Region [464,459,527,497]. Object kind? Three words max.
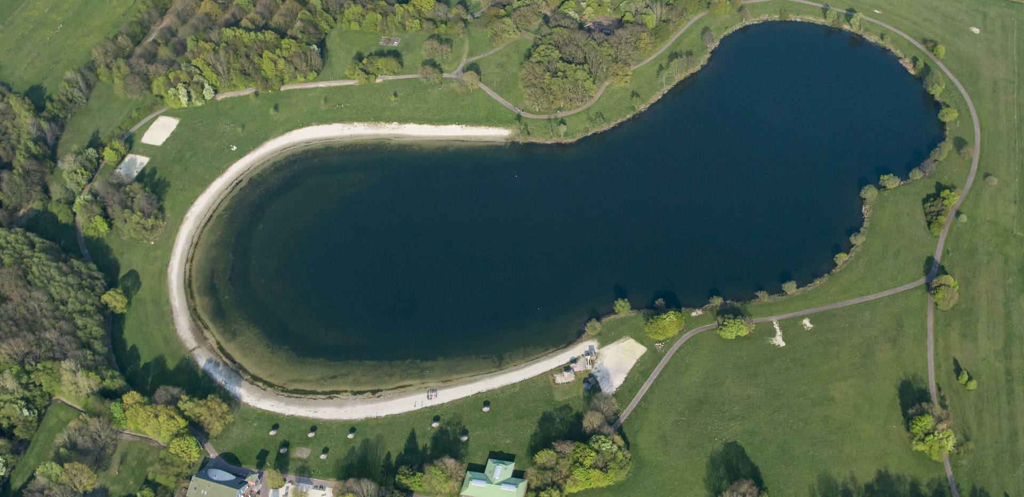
building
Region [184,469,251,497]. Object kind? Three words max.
building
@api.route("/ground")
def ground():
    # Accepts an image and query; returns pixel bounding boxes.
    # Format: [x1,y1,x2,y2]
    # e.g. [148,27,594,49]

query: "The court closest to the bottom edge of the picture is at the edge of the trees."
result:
[119,153,150,178]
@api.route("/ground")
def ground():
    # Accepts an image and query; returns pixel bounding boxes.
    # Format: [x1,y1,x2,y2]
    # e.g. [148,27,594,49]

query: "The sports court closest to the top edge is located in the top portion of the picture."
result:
[141,115,180,145]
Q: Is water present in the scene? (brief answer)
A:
Yes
